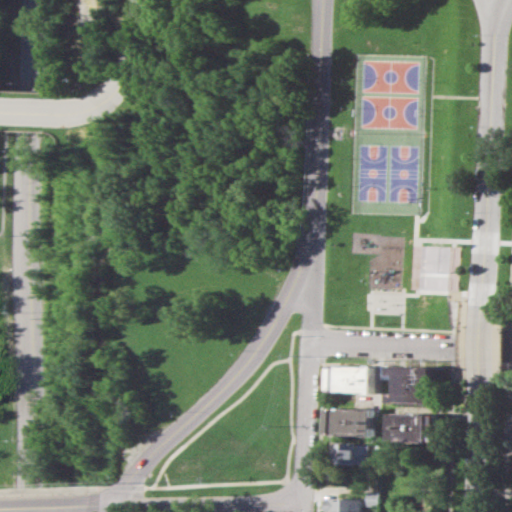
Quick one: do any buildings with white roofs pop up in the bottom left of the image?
No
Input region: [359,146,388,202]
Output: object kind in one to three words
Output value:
basketball court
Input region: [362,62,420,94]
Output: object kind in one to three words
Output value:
sports court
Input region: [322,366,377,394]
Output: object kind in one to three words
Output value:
building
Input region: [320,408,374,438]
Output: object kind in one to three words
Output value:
building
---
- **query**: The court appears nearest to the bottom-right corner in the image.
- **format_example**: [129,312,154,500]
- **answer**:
[412,246,462,292]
